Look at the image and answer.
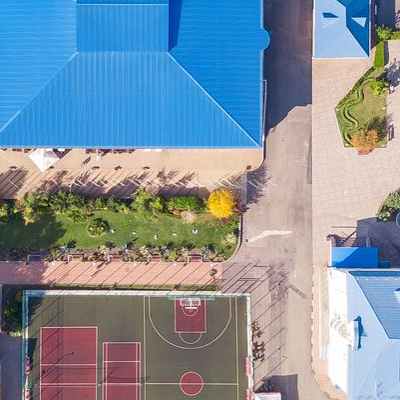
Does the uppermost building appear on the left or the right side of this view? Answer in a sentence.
You can find the uppermost building on the right side of the picture.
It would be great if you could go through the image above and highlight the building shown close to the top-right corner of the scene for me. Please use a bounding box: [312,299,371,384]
[313,0,375,60]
